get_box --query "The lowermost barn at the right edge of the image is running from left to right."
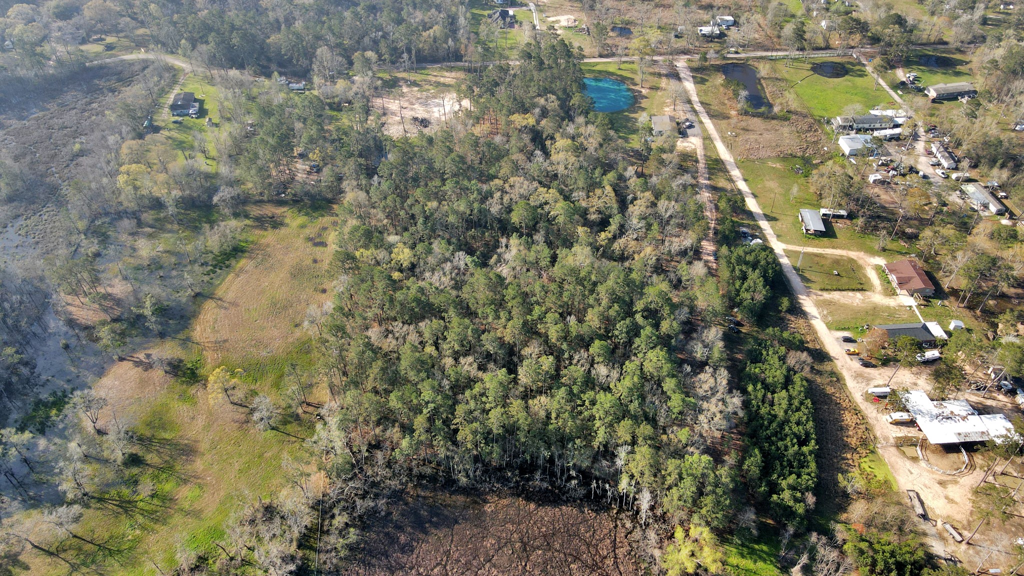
[894,391,1024,452]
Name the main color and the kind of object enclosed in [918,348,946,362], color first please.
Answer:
white camper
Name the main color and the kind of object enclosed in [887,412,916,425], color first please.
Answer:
white vehicle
